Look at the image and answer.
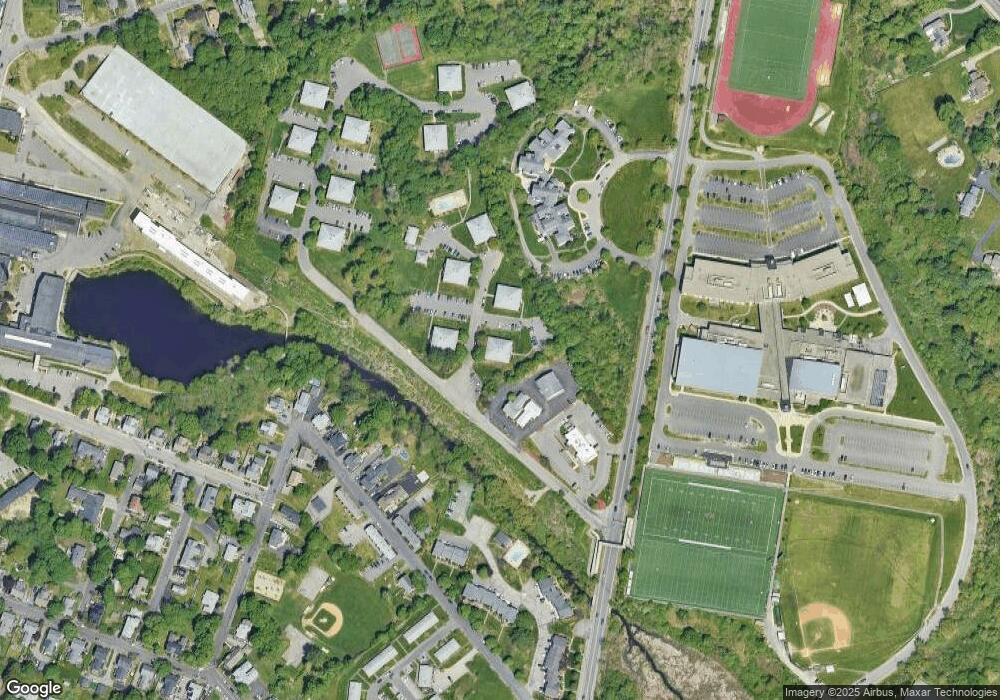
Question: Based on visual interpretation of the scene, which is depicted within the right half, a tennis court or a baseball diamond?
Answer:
baseball diamond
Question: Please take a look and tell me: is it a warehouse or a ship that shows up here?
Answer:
warehouse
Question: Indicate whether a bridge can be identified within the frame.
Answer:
Yes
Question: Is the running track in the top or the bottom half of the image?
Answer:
top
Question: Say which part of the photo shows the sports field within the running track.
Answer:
top right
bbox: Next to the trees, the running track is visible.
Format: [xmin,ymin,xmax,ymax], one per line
[714,0,844,136]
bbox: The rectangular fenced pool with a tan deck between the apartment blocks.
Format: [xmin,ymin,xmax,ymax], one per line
[430,192,467,215]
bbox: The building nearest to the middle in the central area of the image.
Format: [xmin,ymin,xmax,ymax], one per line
[484,335,513,363]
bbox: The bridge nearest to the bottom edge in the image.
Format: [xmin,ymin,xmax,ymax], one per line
[588,508,635,576]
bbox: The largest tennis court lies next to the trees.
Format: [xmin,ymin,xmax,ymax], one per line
[377,24,423,69]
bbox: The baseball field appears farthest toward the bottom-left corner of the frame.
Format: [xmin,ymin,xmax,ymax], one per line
[302,602,343,637]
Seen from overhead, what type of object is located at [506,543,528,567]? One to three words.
swimming pool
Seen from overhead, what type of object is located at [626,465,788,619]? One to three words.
sports field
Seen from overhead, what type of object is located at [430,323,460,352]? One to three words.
building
